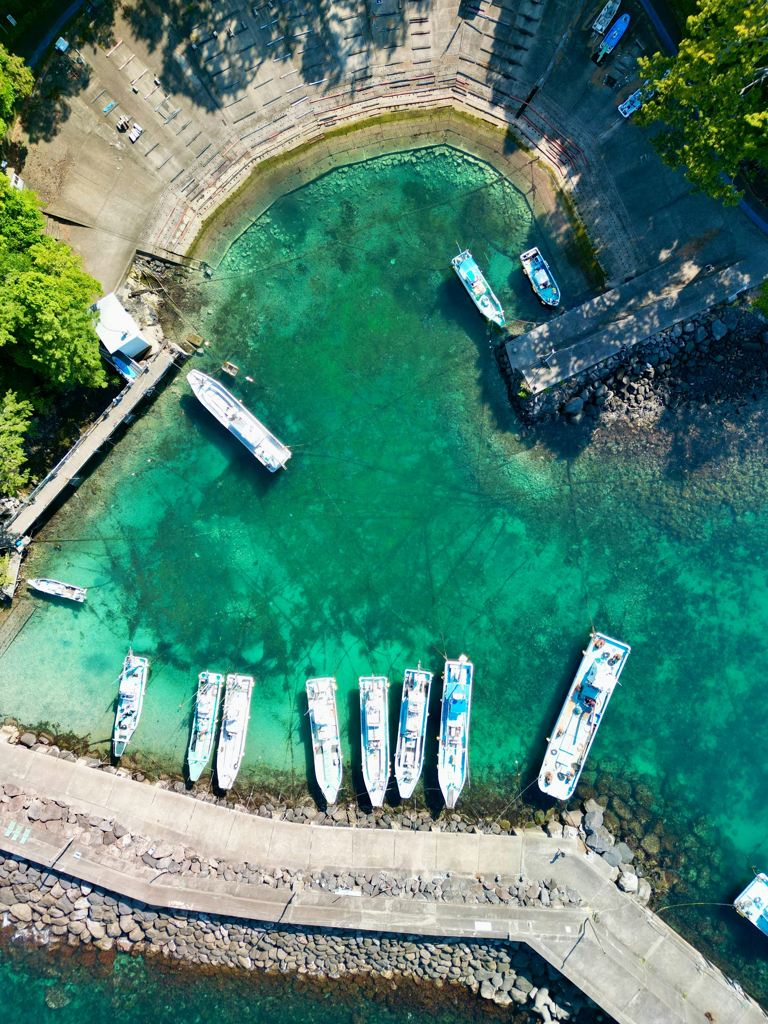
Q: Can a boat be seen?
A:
Yes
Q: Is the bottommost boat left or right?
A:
right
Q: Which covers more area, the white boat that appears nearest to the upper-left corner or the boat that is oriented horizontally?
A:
the white boat that appears nearest to the upper-left corner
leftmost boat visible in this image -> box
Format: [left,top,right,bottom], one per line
[28,578,89,602]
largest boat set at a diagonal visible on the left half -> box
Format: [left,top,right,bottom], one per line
[187,369,292,473]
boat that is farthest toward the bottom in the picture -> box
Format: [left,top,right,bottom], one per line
[729,868,768,936]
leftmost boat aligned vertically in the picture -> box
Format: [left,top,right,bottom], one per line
[111,646,150,756]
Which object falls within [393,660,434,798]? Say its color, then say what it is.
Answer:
white boat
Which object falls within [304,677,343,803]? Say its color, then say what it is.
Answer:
white boat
